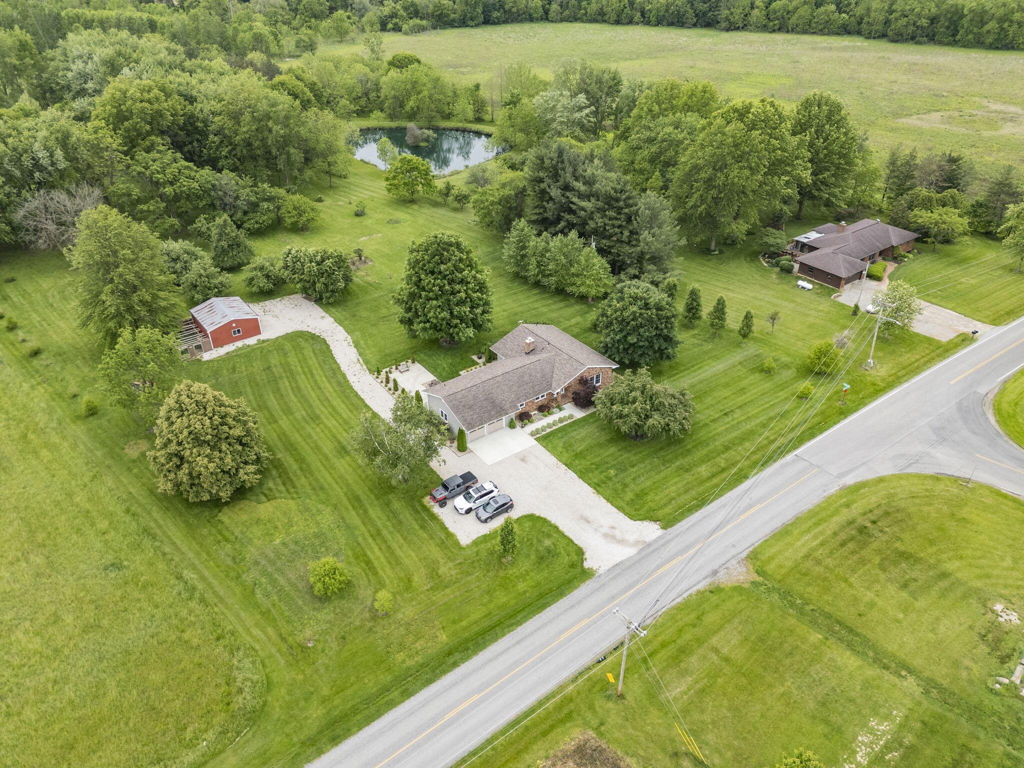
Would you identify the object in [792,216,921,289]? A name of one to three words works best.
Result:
house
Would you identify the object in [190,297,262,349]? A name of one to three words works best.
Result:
barn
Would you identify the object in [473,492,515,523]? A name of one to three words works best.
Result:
car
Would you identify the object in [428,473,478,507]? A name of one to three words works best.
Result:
truck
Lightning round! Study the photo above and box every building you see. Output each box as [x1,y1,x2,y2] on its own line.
[792,216,921,289]
[421,318,620,443]
[190,297,262,349]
